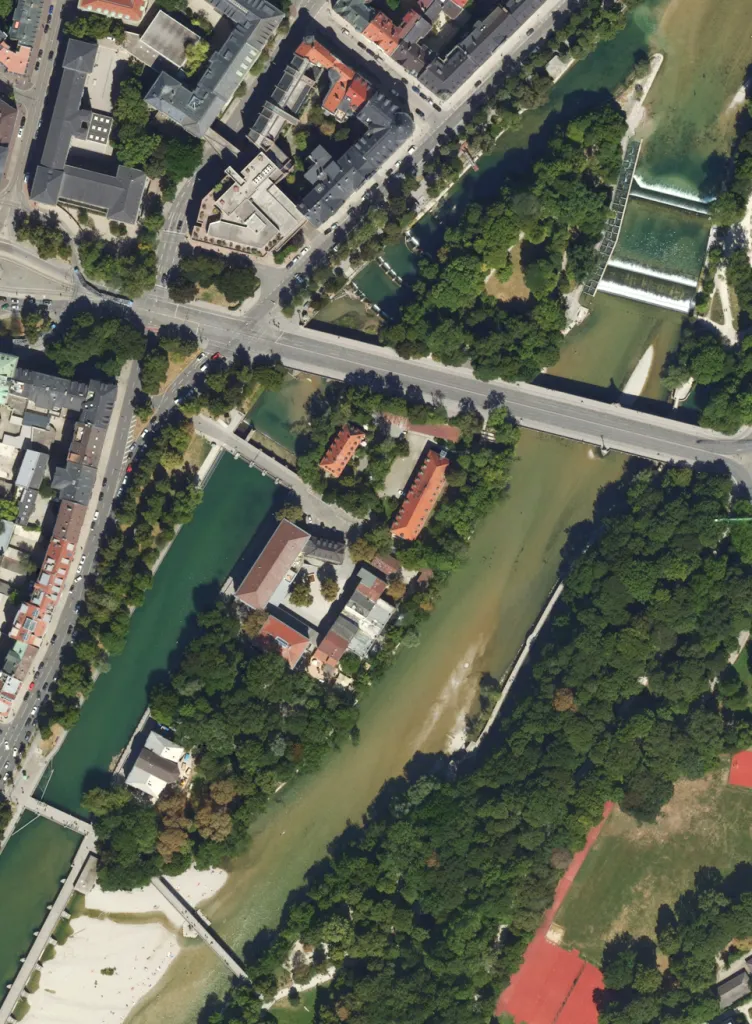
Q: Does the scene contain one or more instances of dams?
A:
Yes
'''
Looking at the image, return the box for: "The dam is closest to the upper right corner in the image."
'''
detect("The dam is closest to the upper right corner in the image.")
[630,177,712,215]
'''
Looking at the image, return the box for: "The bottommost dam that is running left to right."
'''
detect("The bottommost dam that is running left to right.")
[595,263,695,319]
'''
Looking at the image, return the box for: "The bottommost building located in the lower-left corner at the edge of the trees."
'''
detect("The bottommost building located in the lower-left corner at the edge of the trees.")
[73,852,98,894]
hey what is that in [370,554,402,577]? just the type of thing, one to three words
shed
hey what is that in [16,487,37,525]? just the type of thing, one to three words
building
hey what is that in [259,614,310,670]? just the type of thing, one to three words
house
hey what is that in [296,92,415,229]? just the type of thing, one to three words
building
